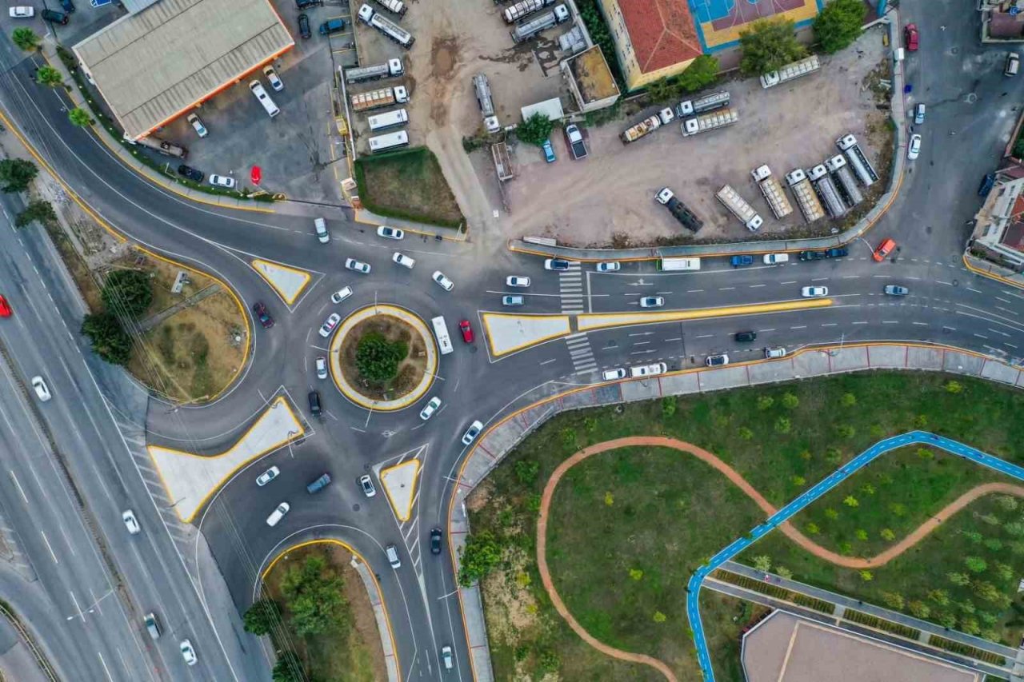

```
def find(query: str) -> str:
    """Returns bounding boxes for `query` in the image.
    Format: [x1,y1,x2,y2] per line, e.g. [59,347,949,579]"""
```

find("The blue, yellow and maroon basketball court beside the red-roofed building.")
[687,0,821,53]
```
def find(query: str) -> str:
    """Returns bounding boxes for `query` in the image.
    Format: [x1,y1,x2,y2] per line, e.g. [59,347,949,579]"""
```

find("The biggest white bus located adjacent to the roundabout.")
[431,316,456,356]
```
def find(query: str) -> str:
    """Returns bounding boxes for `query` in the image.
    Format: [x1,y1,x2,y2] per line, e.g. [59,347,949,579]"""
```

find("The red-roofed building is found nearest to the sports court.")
[606,0,702,90]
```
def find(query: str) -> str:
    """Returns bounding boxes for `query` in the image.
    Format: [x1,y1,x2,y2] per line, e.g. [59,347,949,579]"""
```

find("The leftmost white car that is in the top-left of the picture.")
[10,5,36,19]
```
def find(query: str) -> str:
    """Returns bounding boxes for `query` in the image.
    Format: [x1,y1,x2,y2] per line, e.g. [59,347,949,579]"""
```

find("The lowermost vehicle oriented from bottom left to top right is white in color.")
[263,501,291,528]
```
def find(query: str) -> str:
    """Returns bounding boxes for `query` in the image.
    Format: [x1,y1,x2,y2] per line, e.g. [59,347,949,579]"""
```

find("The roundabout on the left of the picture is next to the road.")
[328,302,438,412]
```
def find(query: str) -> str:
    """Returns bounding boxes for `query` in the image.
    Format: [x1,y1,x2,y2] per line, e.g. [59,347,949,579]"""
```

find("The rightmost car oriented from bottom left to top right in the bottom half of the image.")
[459,419,484,447]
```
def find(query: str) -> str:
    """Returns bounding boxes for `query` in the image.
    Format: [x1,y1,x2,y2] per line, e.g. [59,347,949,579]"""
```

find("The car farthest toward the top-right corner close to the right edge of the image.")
[1002,52,1021,78]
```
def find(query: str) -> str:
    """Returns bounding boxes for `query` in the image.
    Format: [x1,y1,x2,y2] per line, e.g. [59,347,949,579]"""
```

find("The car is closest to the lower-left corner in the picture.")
[142,612,165,642]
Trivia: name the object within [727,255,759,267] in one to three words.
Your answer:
vehicle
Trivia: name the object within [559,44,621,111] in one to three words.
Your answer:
shed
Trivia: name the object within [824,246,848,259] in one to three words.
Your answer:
vehicle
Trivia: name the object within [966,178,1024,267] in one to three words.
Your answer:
house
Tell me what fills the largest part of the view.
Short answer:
paved ground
